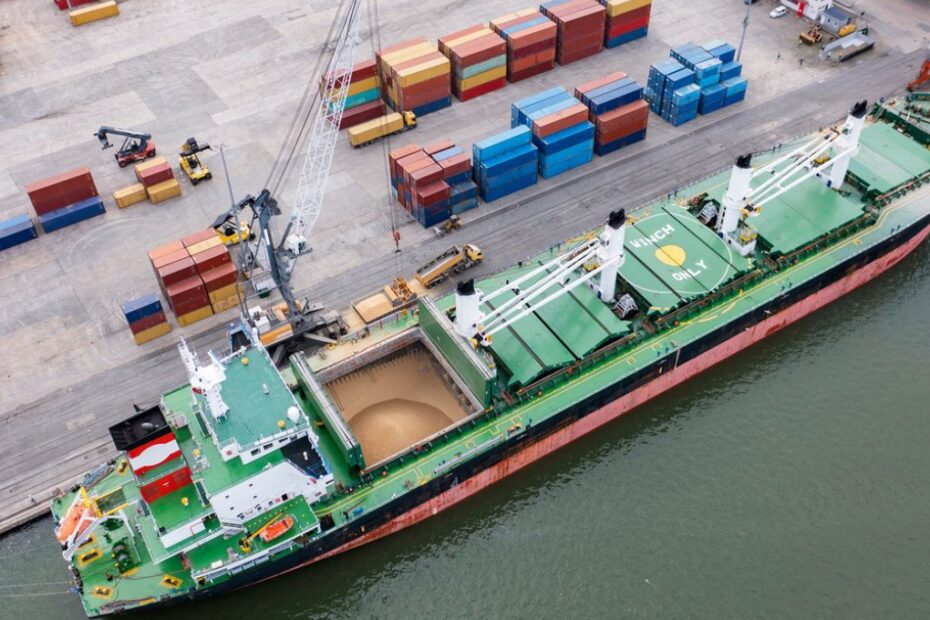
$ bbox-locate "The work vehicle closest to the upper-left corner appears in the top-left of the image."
[91,129,156,167]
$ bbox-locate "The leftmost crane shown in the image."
[234,0,403,369]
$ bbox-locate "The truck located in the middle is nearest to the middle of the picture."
[414,248,484,291]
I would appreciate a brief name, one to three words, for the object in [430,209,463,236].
work vehicle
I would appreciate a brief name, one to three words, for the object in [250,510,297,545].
boat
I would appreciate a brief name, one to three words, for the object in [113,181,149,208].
shipping container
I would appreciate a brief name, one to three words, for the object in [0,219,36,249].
shipping container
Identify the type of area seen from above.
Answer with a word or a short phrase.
port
